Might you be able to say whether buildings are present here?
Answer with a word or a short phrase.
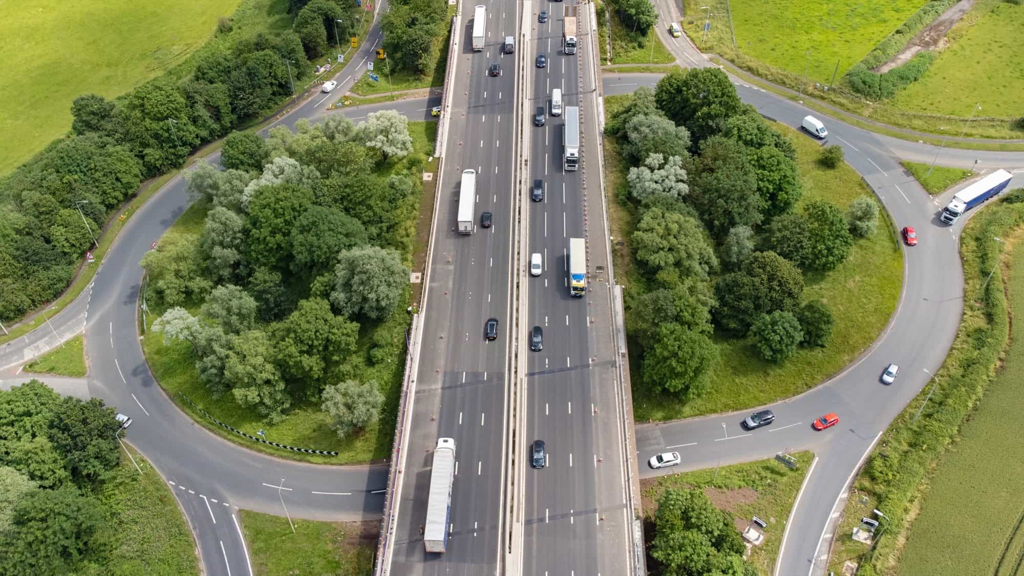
No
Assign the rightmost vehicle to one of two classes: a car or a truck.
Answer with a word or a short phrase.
truck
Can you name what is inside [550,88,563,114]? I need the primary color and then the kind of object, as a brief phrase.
white vehicle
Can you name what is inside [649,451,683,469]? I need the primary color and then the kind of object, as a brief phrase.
white car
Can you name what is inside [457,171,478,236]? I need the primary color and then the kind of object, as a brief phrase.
white truck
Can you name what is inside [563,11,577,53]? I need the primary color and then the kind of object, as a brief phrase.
white vehicle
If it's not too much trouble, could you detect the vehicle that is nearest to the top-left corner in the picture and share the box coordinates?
[320,80,340,95]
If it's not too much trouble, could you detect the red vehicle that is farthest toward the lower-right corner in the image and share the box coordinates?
[813,412,840,430]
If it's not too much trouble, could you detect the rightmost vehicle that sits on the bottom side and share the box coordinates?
[880,362,899,385]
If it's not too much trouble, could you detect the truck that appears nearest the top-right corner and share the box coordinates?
[943,172,1007,226]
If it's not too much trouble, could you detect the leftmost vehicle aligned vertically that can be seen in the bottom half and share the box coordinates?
[425,437,457,555]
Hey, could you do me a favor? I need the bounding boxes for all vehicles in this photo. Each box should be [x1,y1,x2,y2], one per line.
[539,10,548,22]
[320,80,340,95]
[649,451,683,469]
[481,210,493,228]
[425,437,457,555]
[504,38,515,53]
[670,22,681,35]
[813,412,840,430]
[568,237,587,297]
[801,112,826,138]
[457,171,478,236]
[880,362,899,385]
[529,250,543,276]
[743,408,776,429]
[530,438,546,470]
[564,105,581,170]
[531,180,543,199]
[472,6,488,50]
[530,325,544,352]
[111,410,134,431]
[943,172,1007,226]
[490,63,500,76]
[903,227,917,244]
[550,88,563,114]
[485,318,499,341]
[563,11,577,53]
[534,107,545,125]
[536,53,546,67]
